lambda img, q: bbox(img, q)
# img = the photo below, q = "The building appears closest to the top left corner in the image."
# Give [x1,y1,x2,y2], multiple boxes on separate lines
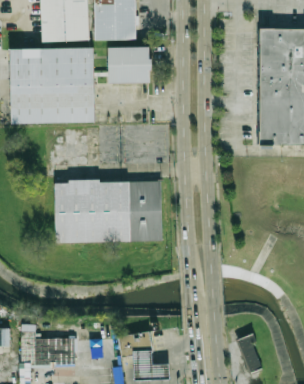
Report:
[40,0,90,42]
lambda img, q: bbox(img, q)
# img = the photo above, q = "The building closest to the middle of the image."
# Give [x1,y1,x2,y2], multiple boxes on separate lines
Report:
[55,182,162,244]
